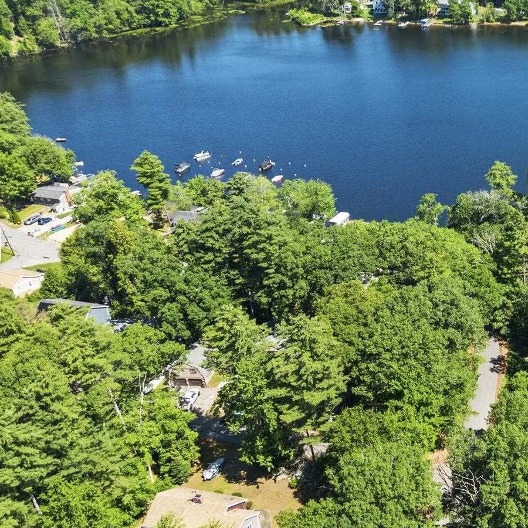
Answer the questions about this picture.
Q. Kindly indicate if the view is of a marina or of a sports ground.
marina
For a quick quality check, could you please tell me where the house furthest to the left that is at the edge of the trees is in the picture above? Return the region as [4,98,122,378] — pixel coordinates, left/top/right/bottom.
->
[0,266,44,300]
